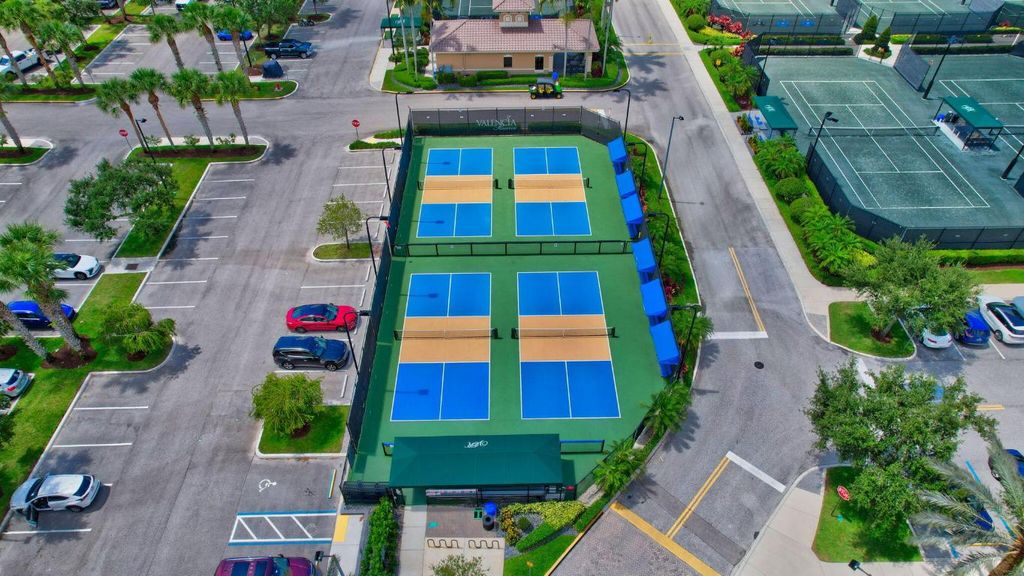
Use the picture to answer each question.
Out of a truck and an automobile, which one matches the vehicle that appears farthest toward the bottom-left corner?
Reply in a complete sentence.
The vehicle that appears farthest toward the bottom-left corner appears to be an automobile.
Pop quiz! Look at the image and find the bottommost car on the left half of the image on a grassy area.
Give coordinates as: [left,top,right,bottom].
[0,369,44,403]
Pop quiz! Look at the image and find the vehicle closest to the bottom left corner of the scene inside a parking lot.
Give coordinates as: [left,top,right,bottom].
[7,472,107,531]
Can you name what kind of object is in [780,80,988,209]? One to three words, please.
tennis court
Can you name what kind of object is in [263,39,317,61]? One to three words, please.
truck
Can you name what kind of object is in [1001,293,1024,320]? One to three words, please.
car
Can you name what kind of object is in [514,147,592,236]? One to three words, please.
sports court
